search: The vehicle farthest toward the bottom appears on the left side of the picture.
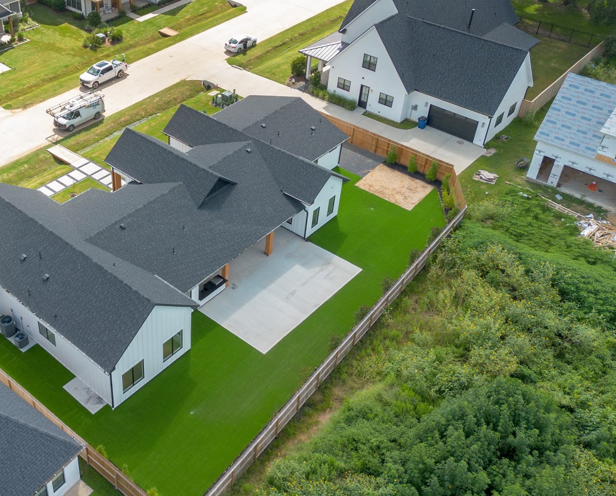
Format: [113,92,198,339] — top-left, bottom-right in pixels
[47,87,105,131]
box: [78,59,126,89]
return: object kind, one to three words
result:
vehicle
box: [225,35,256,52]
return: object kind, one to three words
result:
car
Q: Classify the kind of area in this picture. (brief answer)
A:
residential area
